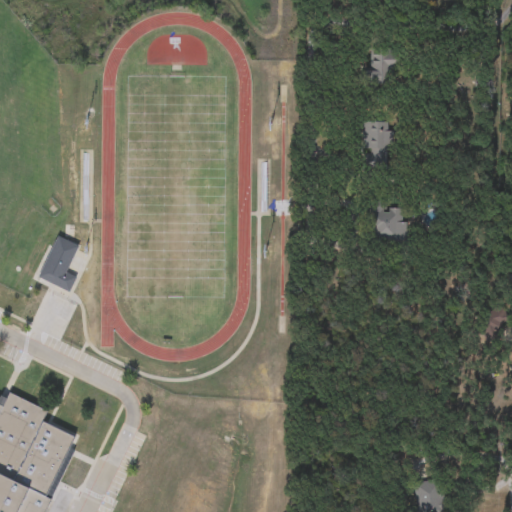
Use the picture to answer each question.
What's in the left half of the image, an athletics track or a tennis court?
athletics track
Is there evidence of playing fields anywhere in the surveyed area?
Yes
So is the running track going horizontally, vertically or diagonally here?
vertically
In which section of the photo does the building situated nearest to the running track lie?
left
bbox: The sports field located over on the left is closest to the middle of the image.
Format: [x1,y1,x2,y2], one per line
[128,76,226,297]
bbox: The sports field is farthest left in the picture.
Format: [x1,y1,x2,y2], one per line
[0,0,64,296]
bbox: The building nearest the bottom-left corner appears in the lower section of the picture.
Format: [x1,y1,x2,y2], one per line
[0,387,81,512]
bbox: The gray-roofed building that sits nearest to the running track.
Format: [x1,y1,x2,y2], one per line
[40,236,79,292]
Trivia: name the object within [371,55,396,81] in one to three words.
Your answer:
house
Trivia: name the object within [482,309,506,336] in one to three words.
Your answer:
house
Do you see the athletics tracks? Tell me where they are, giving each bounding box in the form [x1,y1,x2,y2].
[101,12,251,361]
